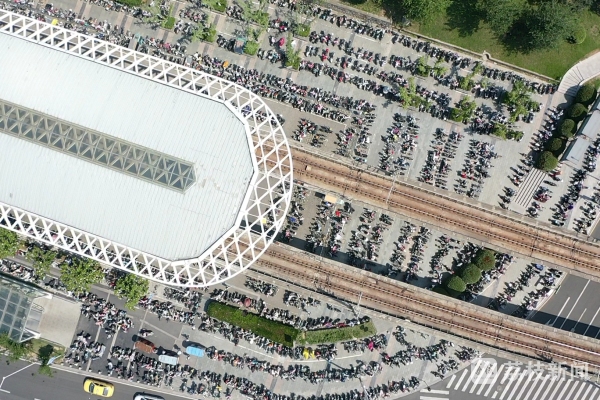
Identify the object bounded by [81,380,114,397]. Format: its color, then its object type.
yellow car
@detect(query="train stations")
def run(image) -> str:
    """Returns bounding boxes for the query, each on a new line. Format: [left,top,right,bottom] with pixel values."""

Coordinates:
[0,8,294,288]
